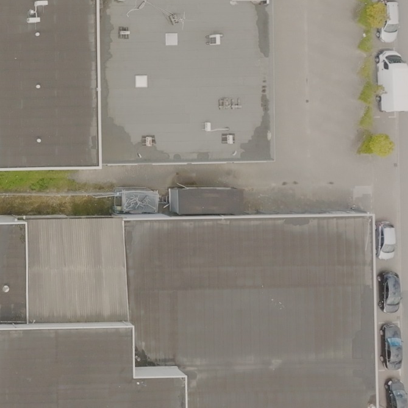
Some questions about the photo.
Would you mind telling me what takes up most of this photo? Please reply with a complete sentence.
The bulk of the photo consists of buildings.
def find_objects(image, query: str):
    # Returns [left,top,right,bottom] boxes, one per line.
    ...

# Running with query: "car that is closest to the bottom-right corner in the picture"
[384,377,408,408]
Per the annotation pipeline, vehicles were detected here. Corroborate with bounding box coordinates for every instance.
[377,323,402,370]
[378,53,408,110]
[375,0,400,42]
[376,270,401,313]
[384,377,408,408]
[374,221,397,258]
